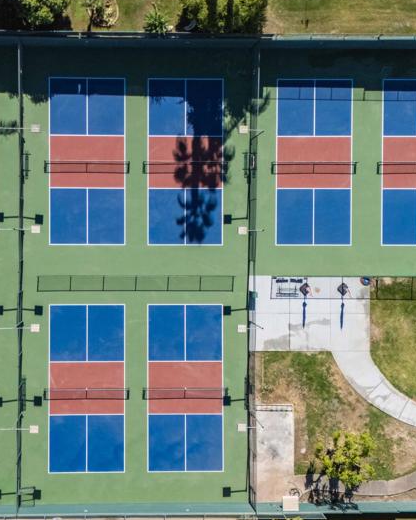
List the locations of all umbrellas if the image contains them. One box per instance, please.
[299,284,314,296]
[337,285,353,296]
